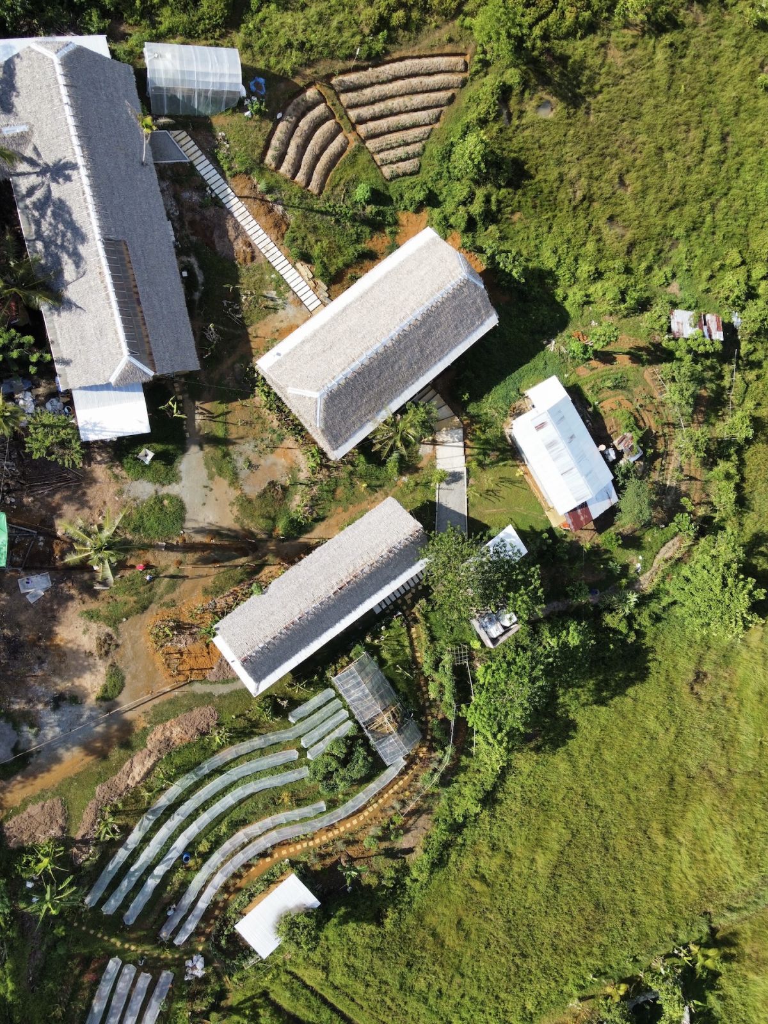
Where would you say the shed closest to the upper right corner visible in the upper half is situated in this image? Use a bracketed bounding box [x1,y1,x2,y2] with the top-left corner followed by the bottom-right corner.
[662,310,724,344]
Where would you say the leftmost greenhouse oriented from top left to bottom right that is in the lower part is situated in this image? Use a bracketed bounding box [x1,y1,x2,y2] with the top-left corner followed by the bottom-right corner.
[332,647,422,766]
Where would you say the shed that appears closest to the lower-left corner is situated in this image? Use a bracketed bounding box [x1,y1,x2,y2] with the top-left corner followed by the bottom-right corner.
[236,859,321,969]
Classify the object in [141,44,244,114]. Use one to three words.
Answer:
greenhouse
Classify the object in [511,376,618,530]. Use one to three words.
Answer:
house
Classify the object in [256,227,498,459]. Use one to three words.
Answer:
house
